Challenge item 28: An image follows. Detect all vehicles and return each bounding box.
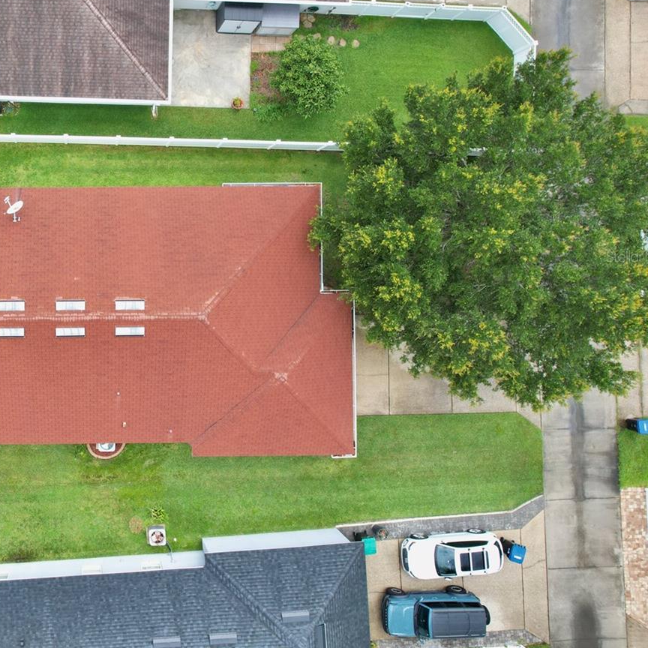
[378,587,492,642]
[398,530,505,585]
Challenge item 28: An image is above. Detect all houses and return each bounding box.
[0,184,357,459]
[0,531,370,648]
[0,0,354,108]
